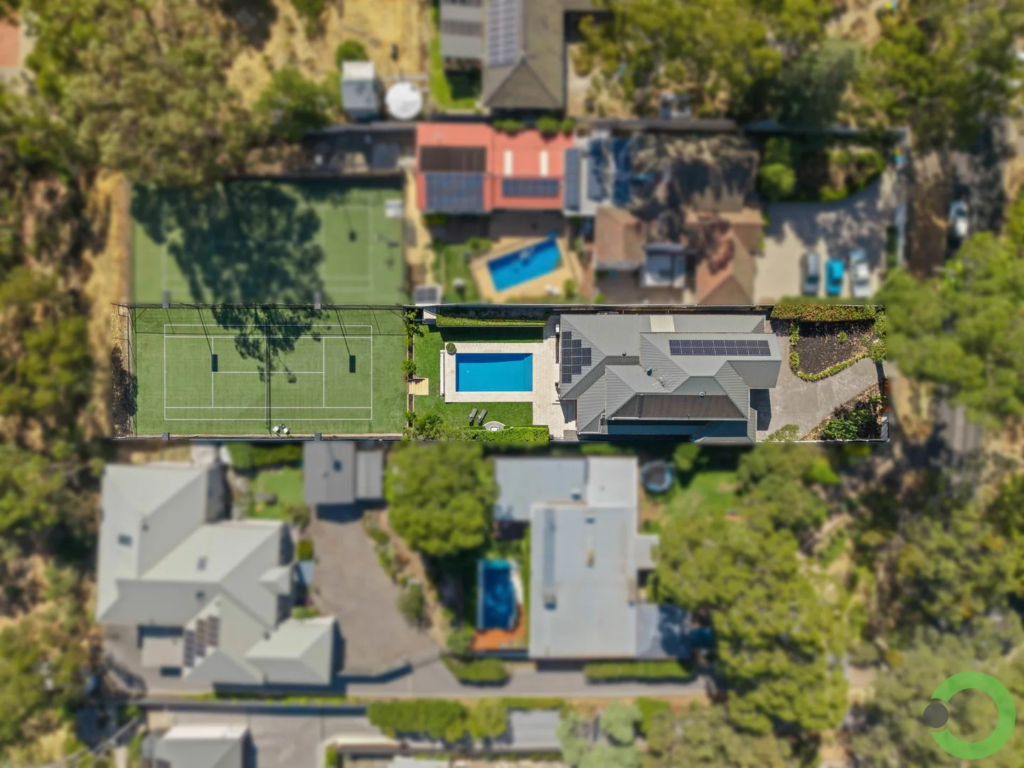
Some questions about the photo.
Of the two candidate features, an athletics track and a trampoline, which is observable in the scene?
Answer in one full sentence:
I can see a trampoline in this picture.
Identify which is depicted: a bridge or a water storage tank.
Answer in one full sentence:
Visible in the photo is a water storage tank.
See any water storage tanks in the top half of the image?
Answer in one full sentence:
Yes, looking in the top half of the image, one can make out a water storage tank.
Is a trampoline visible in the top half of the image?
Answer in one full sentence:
No, I can find no trampoline in the top half of the image.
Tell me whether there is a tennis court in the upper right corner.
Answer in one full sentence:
No, looking in the upper right corner, there is no tennis court.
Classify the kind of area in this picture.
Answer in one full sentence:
It's a residential area.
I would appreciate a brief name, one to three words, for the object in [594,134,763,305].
house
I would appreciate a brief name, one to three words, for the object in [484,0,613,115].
house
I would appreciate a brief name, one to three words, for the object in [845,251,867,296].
car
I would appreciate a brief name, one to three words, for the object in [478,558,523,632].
swimming pool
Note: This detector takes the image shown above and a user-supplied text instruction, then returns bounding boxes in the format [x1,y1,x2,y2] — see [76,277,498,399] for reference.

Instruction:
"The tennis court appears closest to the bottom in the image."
[136,308,406,435]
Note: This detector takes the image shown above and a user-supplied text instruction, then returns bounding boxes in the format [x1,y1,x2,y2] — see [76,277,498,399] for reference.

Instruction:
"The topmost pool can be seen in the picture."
[484,234,565,295]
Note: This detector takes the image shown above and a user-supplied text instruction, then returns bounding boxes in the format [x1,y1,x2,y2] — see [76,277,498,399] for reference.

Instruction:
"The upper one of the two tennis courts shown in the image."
[132,179,404,305]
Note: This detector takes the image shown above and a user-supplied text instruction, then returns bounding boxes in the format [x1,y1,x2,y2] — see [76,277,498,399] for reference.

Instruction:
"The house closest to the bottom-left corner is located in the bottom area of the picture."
[156,720,252,768]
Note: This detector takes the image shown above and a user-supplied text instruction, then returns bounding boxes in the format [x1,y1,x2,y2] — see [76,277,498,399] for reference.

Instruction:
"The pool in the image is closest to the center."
[453,350,536,395]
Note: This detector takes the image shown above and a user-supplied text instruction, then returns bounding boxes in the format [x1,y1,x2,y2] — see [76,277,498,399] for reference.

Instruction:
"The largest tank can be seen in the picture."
[386,82,426,126]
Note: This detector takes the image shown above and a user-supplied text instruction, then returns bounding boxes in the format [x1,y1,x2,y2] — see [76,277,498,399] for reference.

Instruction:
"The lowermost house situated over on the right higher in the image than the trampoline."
[555,314,782,445]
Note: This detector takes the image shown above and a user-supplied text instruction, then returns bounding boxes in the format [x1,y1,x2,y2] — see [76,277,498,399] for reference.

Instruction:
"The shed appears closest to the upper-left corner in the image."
[343,61,377,116]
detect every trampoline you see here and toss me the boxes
[641,462,674,492]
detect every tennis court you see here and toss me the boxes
[136,308,406,435]
[132,179,404,305]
